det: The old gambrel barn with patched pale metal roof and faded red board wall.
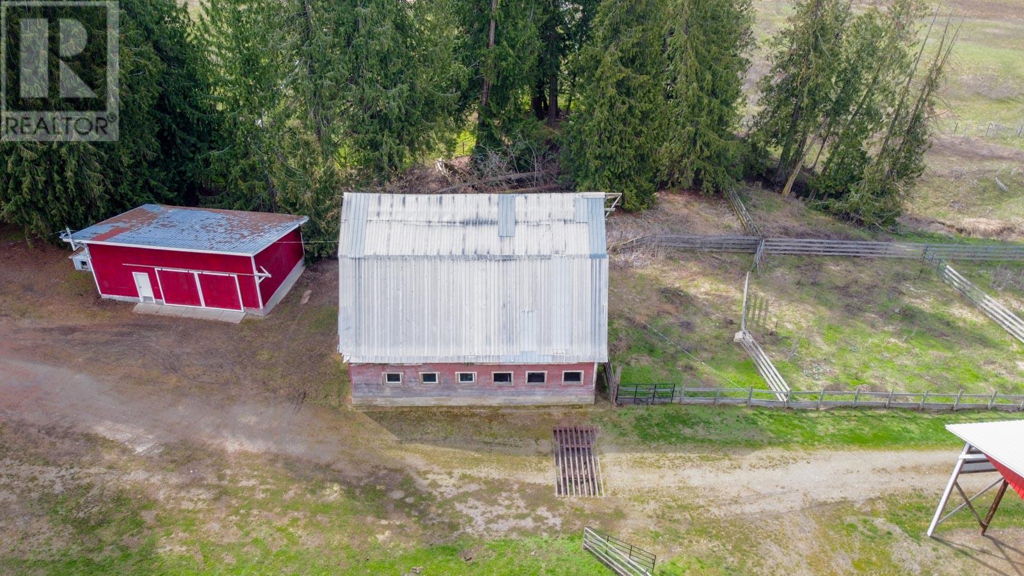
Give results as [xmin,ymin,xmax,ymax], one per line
[337,192,623,406]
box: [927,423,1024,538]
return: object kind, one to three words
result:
barn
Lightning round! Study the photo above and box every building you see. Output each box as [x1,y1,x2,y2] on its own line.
[927,423,1024,538]
[337,192,623,406]
[62,207,311,316]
